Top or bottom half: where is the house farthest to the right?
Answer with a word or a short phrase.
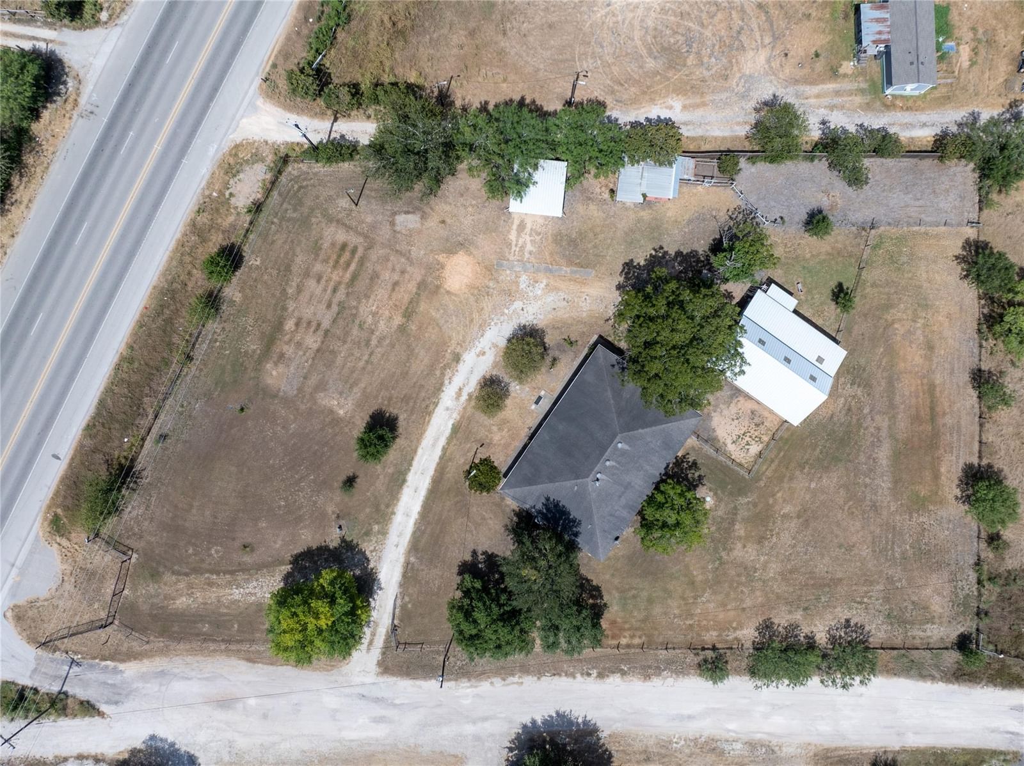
top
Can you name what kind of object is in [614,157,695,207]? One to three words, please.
shed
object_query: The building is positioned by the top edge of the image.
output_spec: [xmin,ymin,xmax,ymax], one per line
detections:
[851,0,937,98]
